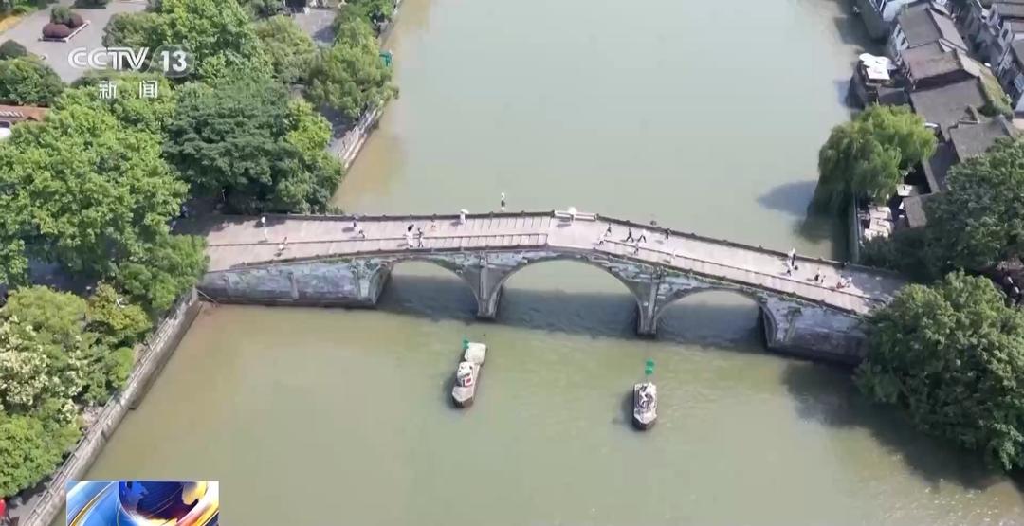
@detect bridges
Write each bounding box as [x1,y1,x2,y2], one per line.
[195,208,974,372]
